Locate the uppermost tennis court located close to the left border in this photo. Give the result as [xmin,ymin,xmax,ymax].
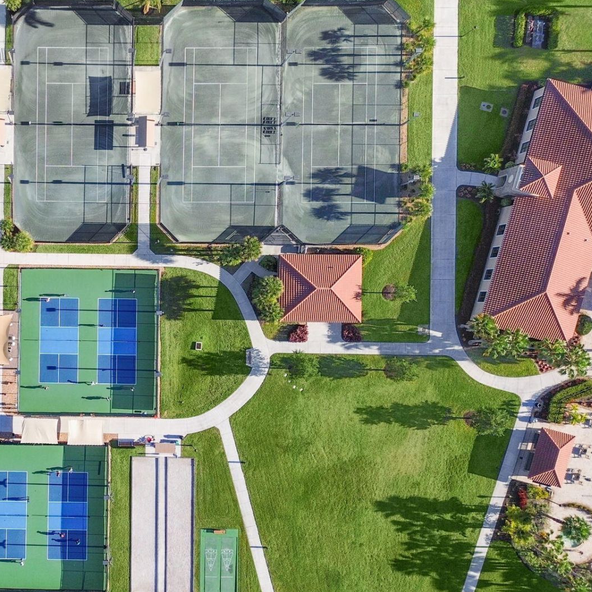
[13,6,133,242]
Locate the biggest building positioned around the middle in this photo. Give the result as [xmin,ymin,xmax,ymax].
[276,253,363,324]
